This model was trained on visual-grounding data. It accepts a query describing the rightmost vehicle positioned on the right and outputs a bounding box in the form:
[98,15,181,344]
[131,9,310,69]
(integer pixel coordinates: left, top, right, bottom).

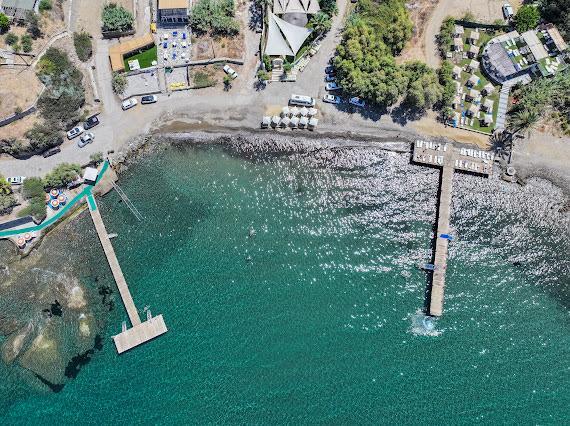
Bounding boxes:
[502,1,514,20]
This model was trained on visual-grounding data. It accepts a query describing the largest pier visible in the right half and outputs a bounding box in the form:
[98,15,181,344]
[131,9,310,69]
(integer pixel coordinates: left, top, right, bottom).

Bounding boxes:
[410,139,495,316]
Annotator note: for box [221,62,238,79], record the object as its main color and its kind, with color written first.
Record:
white vehicle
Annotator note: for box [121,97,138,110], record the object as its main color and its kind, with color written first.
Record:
white vehicle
